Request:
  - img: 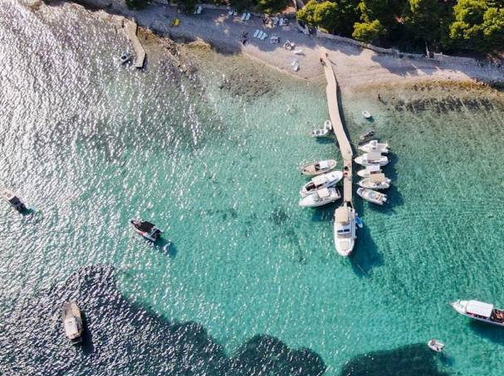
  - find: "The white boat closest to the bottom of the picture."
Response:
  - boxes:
[428,338,446,352]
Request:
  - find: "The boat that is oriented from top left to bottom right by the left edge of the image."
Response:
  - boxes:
[0,186,33,214]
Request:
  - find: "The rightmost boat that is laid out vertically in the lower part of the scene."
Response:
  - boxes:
[333,196,357,256]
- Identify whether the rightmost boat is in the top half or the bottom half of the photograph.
bottom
